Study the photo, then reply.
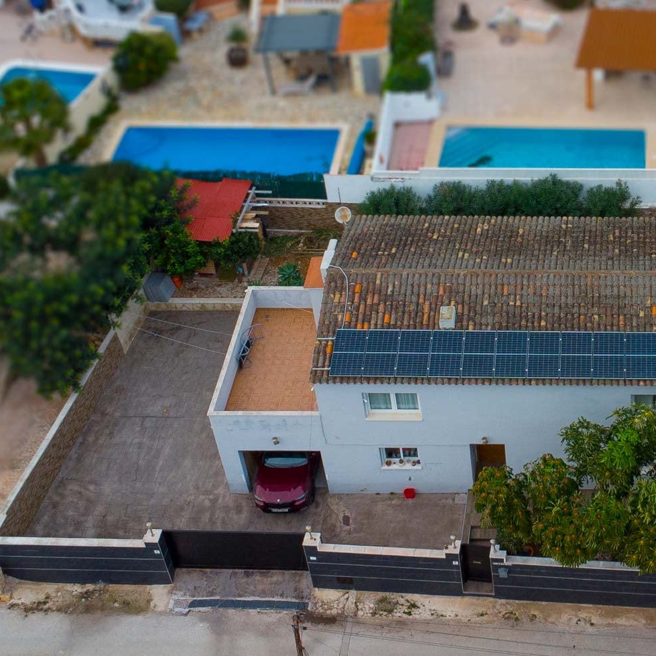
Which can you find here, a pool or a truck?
pool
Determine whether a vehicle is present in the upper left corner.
No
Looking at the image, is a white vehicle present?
No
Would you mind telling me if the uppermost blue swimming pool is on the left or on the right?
left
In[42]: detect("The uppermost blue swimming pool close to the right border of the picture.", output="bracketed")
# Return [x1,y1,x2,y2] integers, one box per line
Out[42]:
[427,120,656,167]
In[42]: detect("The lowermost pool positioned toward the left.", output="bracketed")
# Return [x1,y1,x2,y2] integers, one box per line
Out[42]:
[100,121,348,175]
